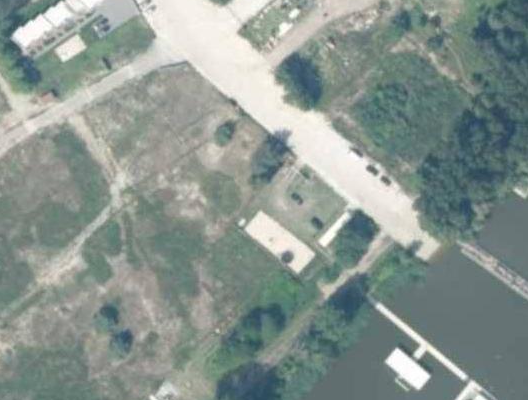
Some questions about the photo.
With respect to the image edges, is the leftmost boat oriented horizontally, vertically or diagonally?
diagonally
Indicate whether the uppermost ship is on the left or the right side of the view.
right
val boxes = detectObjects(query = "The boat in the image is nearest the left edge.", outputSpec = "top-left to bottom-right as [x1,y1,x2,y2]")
[385,348,431,390]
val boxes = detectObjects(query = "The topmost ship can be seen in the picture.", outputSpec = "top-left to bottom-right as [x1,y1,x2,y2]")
[460,238,528,301]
